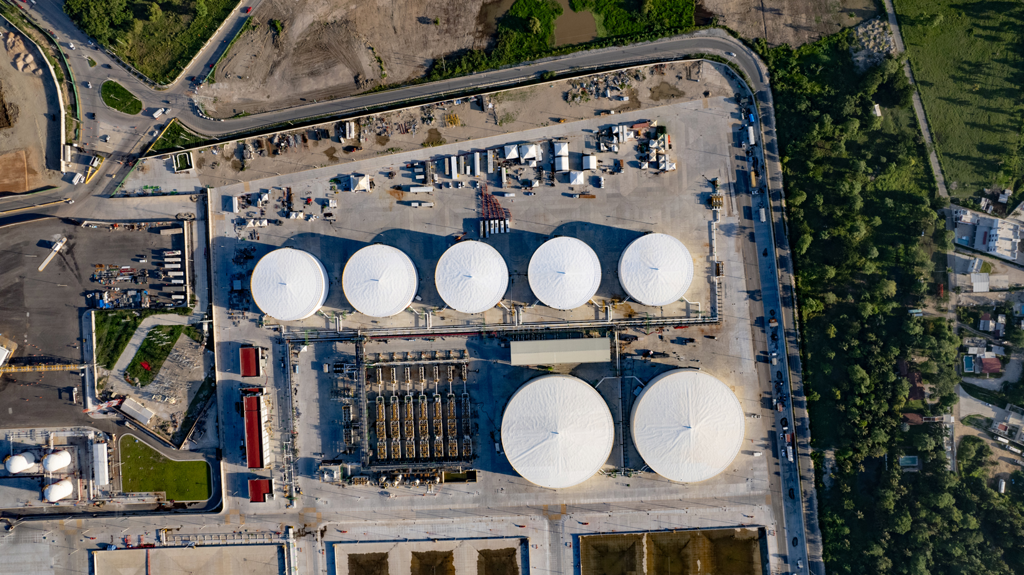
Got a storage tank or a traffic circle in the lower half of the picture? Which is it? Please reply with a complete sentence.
The one visible in the lower half of the picture is a storage tank.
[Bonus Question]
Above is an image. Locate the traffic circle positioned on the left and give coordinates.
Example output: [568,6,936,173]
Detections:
[98,77,145,116]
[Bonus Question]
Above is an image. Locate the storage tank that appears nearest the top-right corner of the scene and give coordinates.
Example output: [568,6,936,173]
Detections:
[618,230,694,306]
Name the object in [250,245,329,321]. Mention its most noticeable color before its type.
white storage tank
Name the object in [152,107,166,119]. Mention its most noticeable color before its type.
white vehicle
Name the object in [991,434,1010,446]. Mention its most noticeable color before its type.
white vehicle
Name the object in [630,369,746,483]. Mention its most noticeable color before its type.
white storage tank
